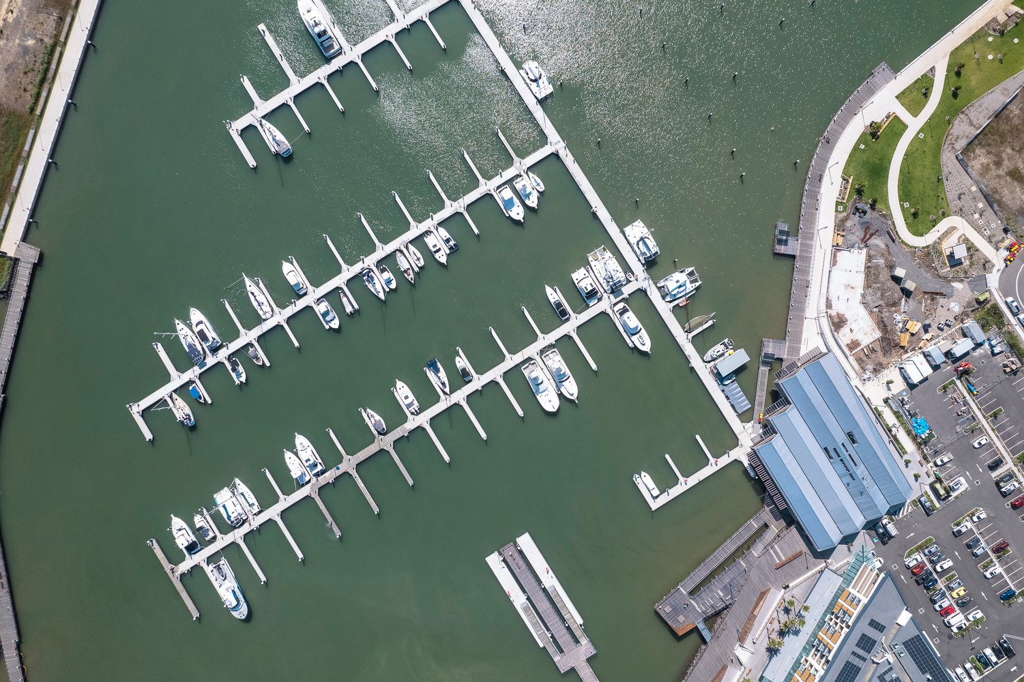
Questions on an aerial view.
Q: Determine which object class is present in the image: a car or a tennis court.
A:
car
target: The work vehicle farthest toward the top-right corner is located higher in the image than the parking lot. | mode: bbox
[853,200,879,216]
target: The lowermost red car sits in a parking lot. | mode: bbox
[938,604,956,618]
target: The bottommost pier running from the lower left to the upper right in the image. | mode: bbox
[656,508,768,627]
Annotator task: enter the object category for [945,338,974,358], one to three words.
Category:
building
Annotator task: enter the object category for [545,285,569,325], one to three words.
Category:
boat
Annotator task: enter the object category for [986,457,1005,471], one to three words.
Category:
car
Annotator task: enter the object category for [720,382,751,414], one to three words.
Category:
pier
